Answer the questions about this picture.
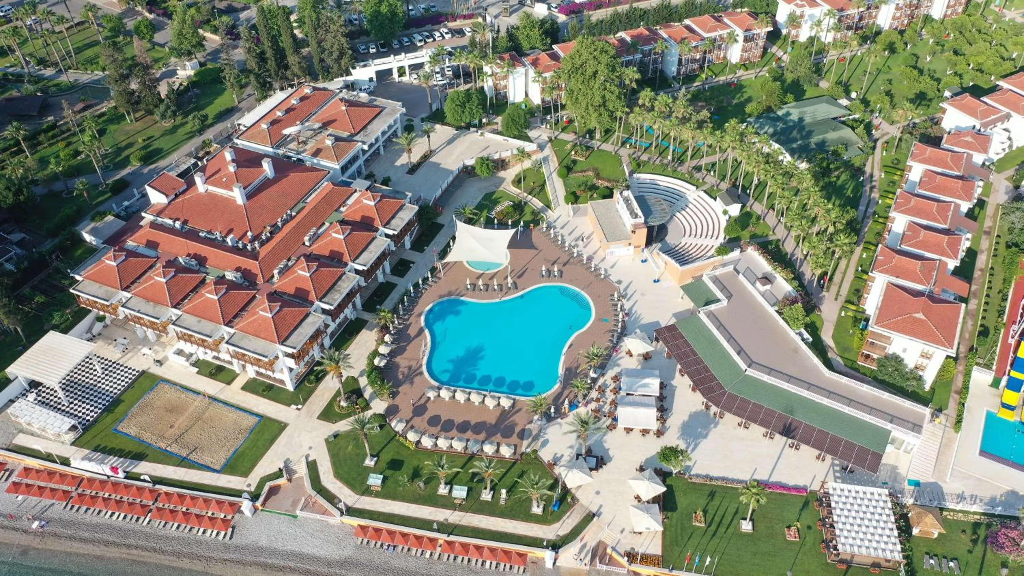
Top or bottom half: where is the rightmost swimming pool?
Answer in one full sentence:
The bottom half of the photo is where the rightmost swimming pool is.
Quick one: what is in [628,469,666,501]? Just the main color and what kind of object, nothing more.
white umbrella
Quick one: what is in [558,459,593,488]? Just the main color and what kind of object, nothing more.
white umbrella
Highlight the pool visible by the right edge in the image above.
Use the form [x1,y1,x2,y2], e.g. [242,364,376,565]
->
[978,408,1024,472]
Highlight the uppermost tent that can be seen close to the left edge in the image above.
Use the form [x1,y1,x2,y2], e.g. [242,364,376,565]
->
[3,395,83,441]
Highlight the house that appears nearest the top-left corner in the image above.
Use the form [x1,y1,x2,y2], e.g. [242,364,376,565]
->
[0,97,47,125]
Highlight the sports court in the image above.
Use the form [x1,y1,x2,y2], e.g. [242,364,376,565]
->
[113,379,261,473]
